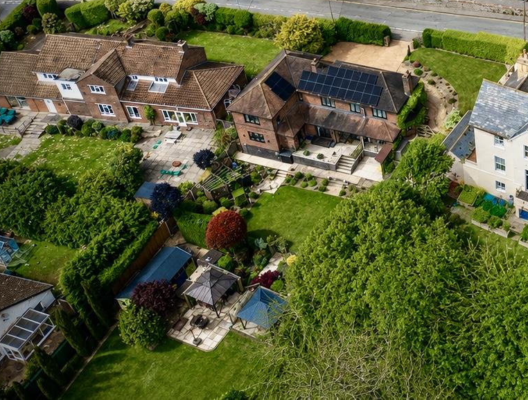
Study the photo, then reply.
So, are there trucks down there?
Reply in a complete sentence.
No, the photo shows no truck.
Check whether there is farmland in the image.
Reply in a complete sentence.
No, no farmland is visible.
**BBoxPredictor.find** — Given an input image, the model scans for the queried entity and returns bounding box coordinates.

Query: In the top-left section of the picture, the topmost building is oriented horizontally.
[0,27,245,130]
